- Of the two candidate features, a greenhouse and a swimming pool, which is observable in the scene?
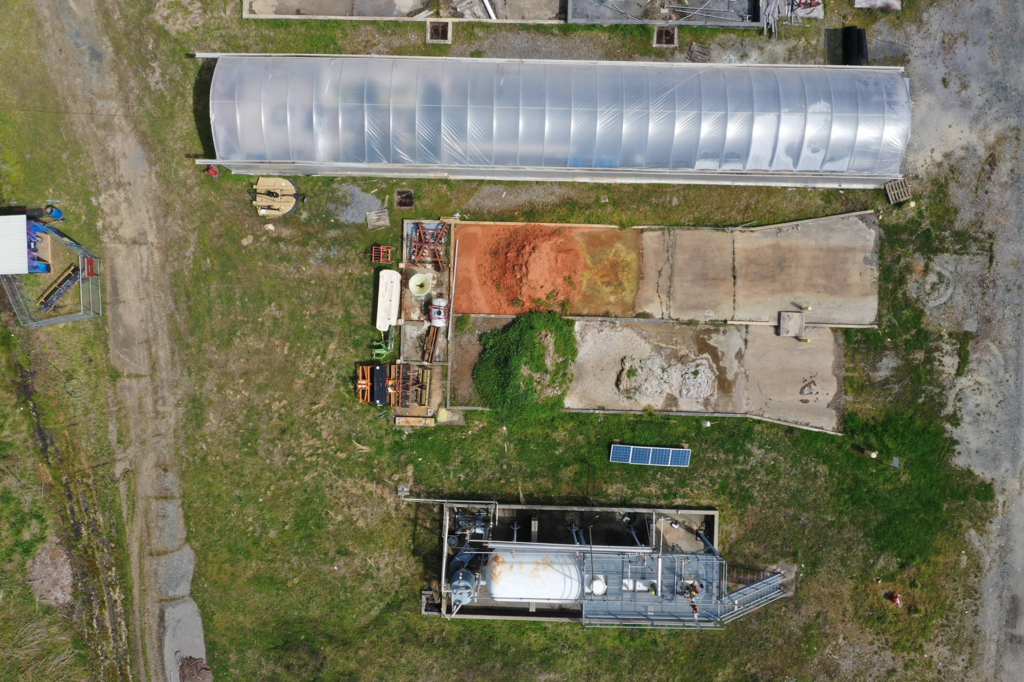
greenhouse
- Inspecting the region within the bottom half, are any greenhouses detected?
No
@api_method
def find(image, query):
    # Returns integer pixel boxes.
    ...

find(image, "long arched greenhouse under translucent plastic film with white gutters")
[195,47,908,189]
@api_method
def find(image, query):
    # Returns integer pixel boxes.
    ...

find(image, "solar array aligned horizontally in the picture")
[610,437,691,467]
